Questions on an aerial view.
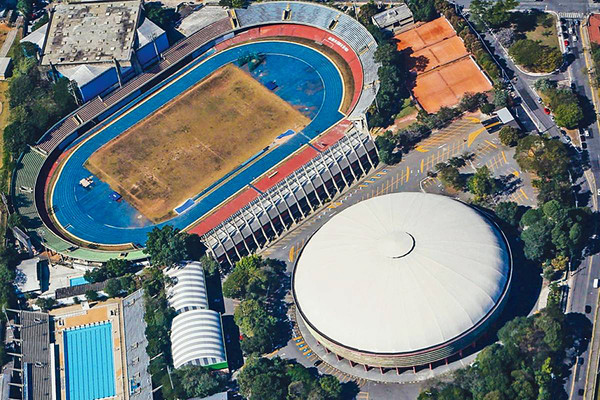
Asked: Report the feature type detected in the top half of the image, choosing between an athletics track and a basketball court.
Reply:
athletics track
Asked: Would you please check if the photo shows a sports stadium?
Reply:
Yes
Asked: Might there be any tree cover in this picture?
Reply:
Yes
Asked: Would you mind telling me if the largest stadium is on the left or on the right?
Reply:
right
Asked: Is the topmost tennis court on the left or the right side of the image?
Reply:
right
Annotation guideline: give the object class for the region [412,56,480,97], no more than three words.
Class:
tennis court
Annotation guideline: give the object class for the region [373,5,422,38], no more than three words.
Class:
building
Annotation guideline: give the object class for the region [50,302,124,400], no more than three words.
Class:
swimming pool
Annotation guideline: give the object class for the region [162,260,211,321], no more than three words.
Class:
building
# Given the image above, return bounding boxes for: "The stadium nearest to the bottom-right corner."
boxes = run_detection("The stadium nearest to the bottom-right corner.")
[288,193,524,381]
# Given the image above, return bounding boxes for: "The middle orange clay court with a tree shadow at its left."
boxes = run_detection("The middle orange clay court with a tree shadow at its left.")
[408,35,468,74]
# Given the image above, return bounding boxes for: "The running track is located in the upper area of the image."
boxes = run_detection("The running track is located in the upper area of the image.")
[35,26,368,248]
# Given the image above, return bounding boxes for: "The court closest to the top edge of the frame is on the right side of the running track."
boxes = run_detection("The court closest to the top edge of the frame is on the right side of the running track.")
[394,17,455,53]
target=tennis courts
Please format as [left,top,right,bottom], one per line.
[412,71,492,113]
[408,35,468,74]
[394,17,455,53]
[412,56,480,97]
